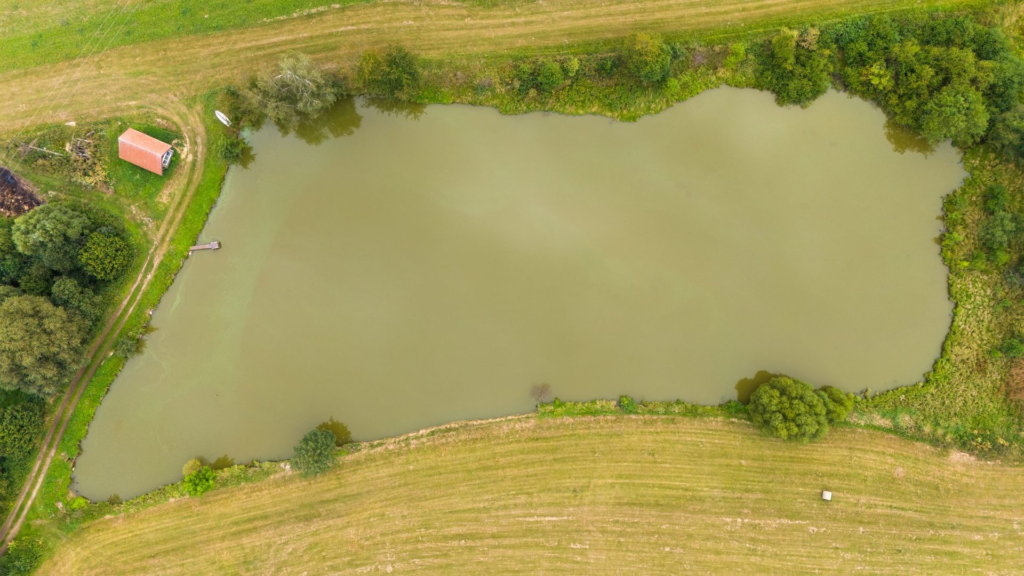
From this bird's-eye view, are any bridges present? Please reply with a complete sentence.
No, no bridge is visible in the scene.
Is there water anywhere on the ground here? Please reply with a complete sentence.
Yes, water can be seen from above here.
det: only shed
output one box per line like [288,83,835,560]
[118,128,179,175]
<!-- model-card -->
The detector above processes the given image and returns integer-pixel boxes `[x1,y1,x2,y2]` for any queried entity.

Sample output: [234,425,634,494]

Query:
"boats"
[214,110,233,128]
